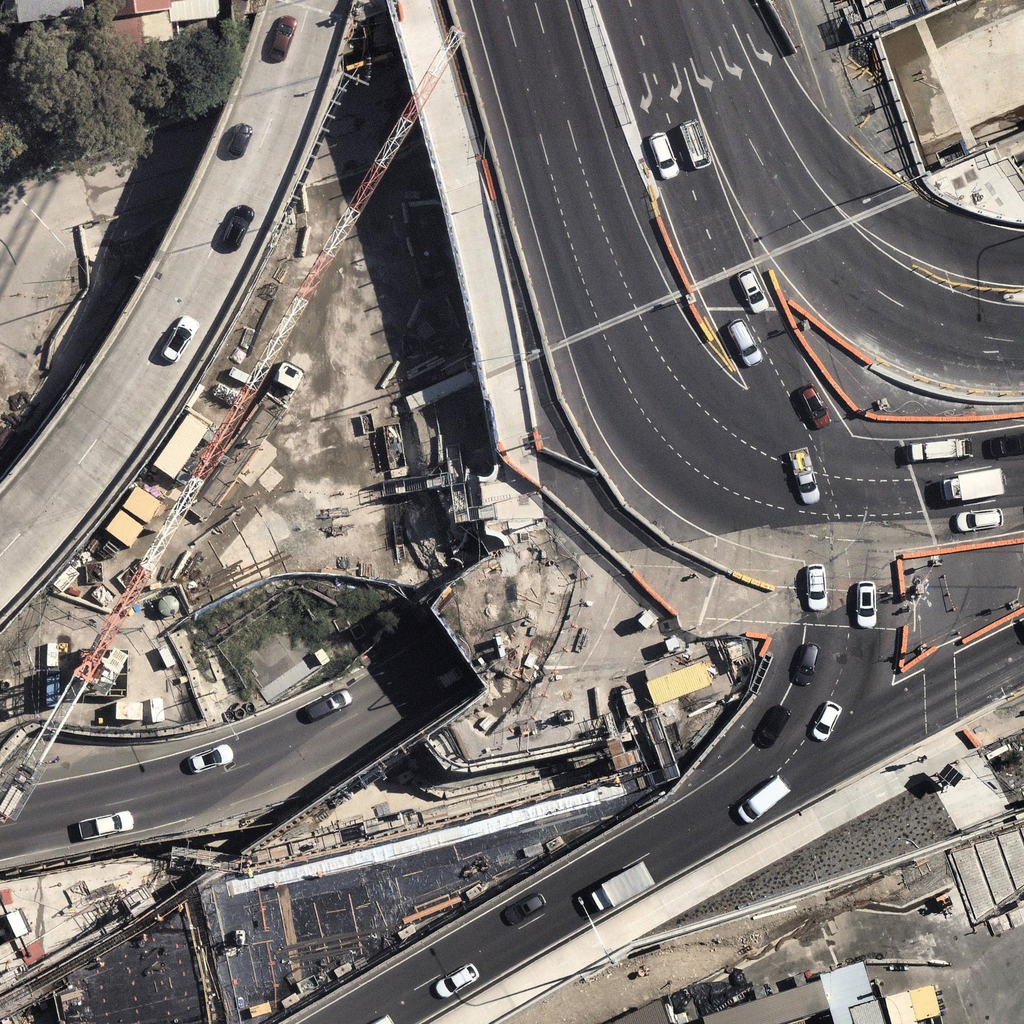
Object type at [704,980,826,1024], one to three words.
shed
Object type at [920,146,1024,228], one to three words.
building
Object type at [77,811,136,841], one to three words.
truck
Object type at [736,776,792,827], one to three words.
van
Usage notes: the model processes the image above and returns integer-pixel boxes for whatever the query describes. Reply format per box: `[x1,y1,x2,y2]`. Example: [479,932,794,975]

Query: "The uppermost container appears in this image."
[157,414,208,477]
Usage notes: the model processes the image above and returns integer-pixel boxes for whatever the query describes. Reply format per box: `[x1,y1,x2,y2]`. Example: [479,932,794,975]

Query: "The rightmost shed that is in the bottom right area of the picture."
[909,984,940,1021]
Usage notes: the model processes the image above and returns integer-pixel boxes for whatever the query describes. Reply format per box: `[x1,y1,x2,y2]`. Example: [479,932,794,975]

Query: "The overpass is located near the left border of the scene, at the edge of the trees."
[0,0,353,630]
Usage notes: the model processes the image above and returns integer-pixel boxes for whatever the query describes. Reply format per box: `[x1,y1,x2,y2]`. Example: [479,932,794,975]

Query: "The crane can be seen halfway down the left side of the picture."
[0,29,463,820]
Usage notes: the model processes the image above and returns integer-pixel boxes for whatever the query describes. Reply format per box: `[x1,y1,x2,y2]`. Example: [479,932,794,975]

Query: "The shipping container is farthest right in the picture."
[645,662,712,704]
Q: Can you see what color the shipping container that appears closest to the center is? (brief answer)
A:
yellow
